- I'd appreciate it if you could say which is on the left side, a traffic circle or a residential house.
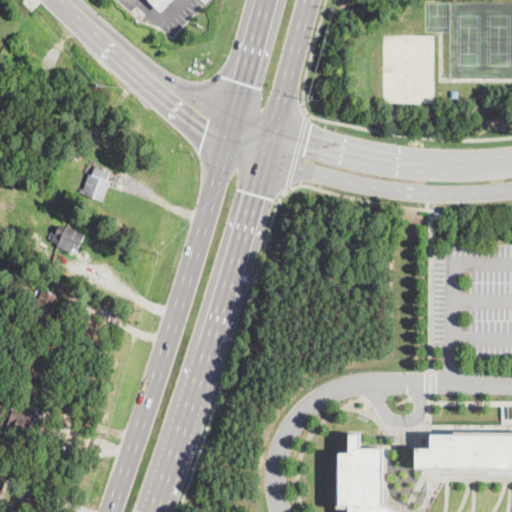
residential house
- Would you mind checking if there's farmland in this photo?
No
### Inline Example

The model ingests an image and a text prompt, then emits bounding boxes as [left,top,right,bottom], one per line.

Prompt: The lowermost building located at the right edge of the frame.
[414,432,512,471]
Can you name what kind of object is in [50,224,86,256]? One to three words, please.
house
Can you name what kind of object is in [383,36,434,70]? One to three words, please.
sports court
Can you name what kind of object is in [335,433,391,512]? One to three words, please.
building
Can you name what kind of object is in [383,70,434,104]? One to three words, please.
sports court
